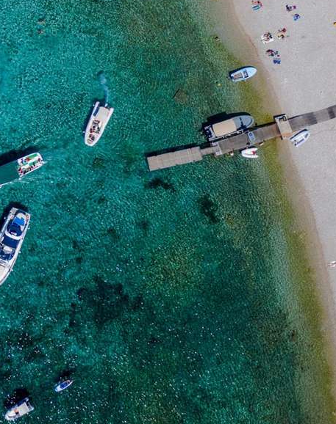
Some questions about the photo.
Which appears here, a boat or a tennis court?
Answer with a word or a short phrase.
boat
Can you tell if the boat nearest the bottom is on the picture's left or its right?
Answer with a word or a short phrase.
left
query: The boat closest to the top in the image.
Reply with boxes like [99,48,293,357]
[226,67,257,82]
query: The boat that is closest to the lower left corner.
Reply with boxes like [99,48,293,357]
[6,399,34,422]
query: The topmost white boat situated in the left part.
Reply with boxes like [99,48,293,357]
[83,101,113,146]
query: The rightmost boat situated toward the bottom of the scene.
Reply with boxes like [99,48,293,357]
[55,379,73,392]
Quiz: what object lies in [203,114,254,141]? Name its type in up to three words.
boat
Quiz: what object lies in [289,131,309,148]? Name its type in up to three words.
boat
